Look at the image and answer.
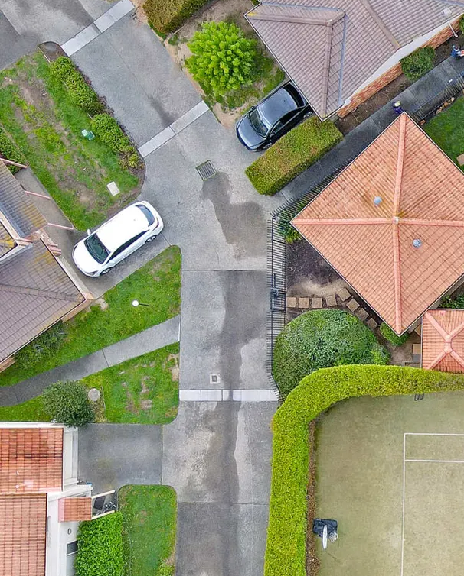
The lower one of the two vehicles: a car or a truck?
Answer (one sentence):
I'd say the lower one of the two vehicles is a car.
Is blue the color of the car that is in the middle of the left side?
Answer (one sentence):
No, the color of the car that is in the middle of the left side is white.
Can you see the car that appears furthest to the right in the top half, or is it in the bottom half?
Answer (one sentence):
The car that appears furthest to the right is in the top half of the image.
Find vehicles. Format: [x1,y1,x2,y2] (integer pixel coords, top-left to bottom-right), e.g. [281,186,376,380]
[231,80,316,151]
[72,201,165,272]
